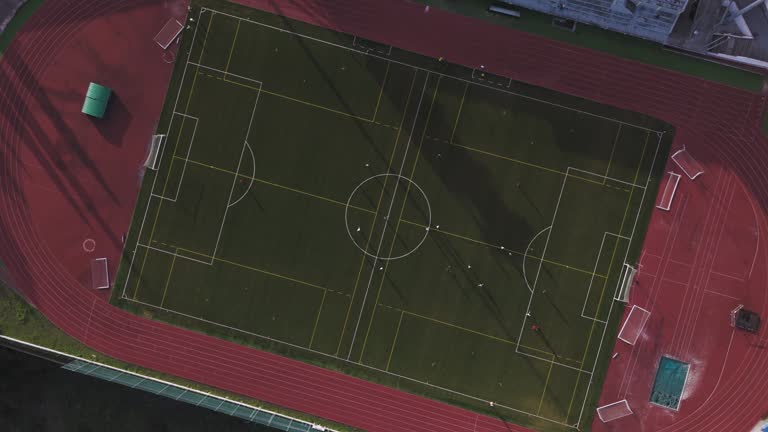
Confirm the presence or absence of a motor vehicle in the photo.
No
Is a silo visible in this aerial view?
No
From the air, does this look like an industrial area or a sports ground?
sports ground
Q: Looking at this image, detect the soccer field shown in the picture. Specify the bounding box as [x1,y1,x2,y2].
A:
[105,0,681,432]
